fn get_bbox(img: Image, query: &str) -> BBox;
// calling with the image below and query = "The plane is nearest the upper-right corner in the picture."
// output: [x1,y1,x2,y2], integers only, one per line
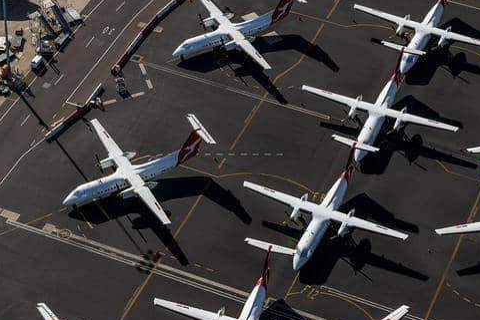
[354,0,480,72]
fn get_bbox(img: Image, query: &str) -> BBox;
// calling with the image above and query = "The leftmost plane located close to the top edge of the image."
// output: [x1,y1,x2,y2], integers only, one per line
[172,0,305,67]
